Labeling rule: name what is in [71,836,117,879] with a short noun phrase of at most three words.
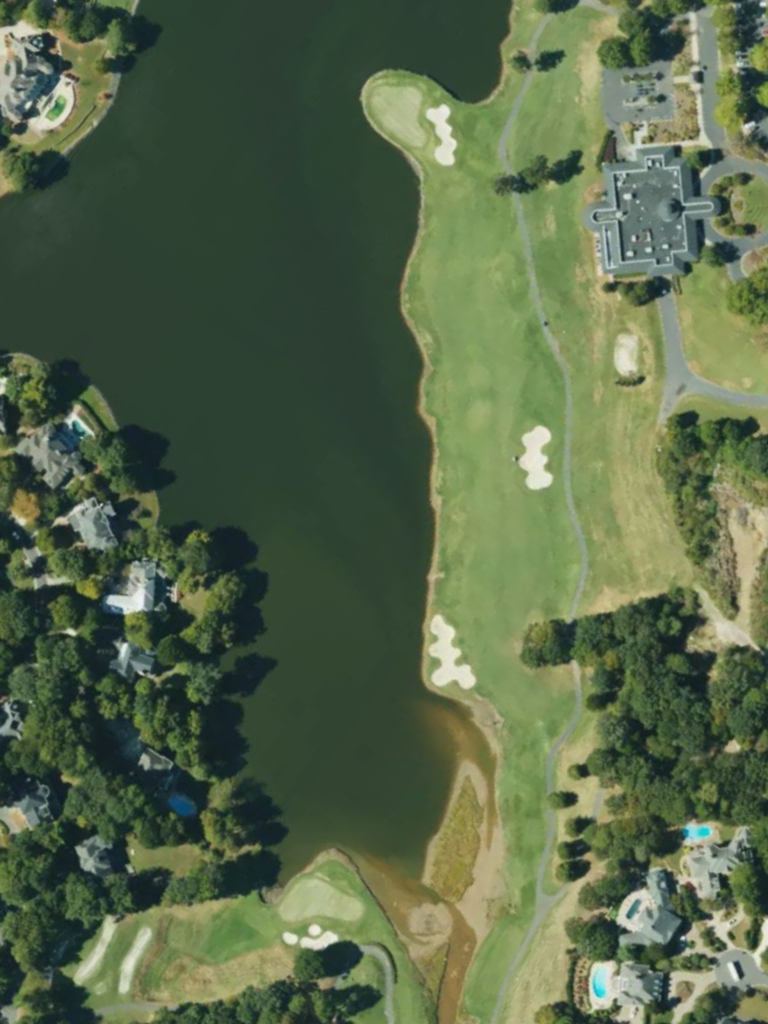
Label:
house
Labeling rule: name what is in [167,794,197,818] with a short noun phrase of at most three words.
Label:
swimming pool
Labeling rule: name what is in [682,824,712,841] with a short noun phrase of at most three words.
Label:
swimming pool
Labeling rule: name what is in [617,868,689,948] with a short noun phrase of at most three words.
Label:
house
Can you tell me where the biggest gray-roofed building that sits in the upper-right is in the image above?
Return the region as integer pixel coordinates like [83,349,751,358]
[583,146,721,276]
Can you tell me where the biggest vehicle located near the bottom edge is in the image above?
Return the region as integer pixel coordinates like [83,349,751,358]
[727,961,740,981]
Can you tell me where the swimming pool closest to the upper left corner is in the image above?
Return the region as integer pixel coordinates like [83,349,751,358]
[46,94,67,121]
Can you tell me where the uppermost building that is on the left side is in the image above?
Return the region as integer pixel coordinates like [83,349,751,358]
[1,39,59,126]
